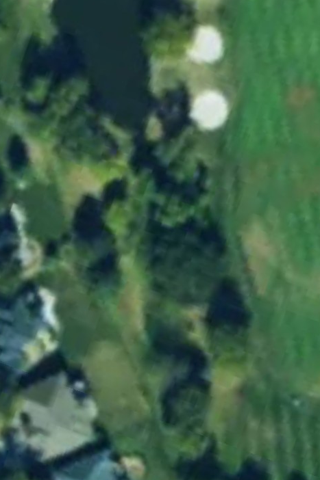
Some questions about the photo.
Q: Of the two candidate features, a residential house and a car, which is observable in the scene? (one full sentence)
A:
Looking from above, you can make out a residential house.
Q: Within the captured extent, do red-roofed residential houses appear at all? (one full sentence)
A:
No, I can see no red-roofed residential house in this picture.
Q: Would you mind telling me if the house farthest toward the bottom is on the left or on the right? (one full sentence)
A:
The house farthest toward the bottom is on the left side of the image.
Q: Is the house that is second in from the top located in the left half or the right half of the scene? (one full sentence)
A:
The house that is second in from the top sits on the left side.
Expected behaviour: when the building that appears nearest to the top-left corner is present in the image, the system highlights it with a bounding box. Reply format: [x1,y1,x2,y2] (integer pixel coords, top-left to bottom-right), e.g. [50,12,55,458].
[0,214,19,253]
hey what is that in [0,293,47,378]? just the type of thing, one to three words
house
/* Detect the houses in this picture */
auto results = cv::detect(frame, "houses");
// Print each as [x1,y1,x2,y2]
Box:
[13,374,102,465]
[0,293,47,378]
[0,214,19,253]
[45,444,125,480]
